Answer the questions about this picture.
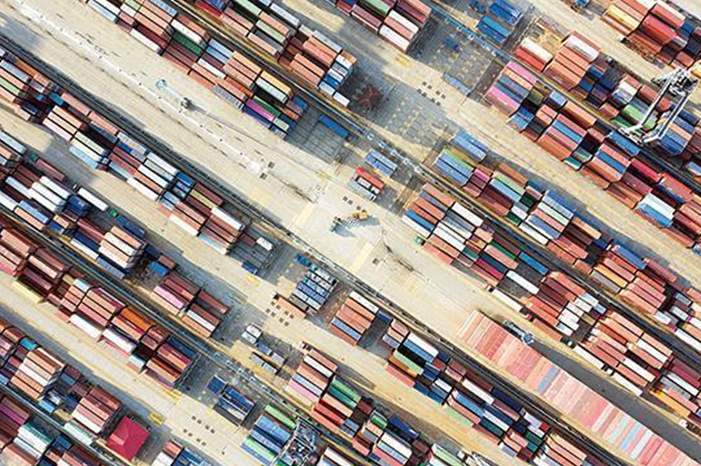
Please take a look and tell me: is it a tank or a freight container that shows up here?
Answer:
freight container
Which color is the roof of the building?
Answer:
red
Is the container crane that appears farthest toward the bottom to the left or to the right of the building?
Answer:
to the right of it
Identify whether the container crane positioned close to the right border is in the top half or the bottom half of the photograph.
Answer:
top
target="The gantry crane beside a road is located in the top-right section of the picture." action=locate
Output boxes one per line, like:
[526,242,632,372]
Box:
[618,55,701,148]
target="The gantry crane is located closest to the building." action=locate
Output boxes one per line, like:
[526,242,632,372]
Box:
[263,414,326,466]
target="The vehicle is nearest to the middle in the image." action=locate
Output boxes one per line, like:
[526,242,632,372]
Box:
[331,209,372,232]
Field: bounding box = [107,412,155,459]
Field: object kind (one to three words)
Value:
building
